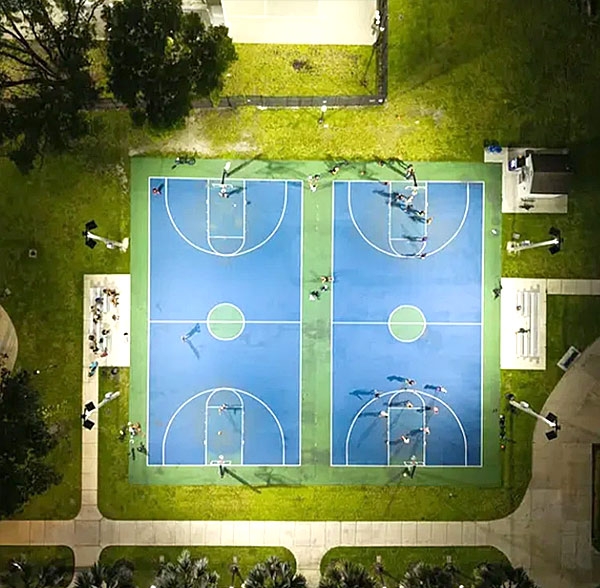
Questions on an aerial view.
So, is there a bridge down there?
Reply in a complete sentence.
No, I can see no bridge in this picture.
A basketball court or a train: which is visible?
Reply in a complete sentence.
Visible in the photo is a basketball court.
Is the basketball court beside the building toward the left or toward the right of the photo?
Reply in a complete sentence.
It is on the right.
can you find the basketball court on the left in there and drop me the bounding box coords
[129,158,318,486]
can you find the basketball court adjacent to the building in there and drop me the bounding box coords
[315,160,502,487]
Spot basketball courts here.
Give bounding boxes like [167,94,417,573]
[315,160,502,487]
[129,158,318,486]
